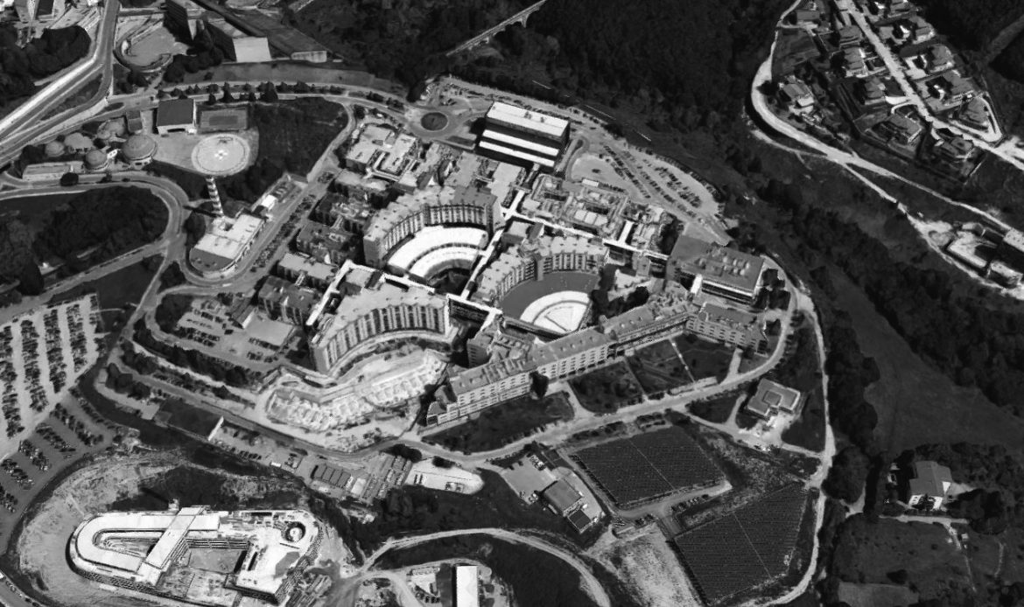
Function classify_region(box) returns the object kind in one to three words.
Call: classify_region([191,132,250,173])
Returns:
helipad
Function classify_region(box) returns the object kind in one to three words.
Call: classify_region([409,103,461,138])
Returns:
roundabout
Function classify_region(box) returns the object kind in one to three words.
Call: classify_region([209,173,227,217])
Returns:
chimney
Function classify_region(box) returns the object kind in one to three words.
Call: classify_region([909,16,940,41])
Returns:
house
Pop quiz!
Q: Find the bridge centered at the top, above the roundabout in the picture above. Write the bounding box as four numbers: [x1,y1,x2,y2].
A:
[445,0,555,65]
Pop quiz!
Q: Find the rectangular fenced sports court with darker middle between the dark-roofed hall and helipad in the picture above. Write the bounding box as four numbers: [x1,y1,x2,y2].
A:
[198,105,249,130]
